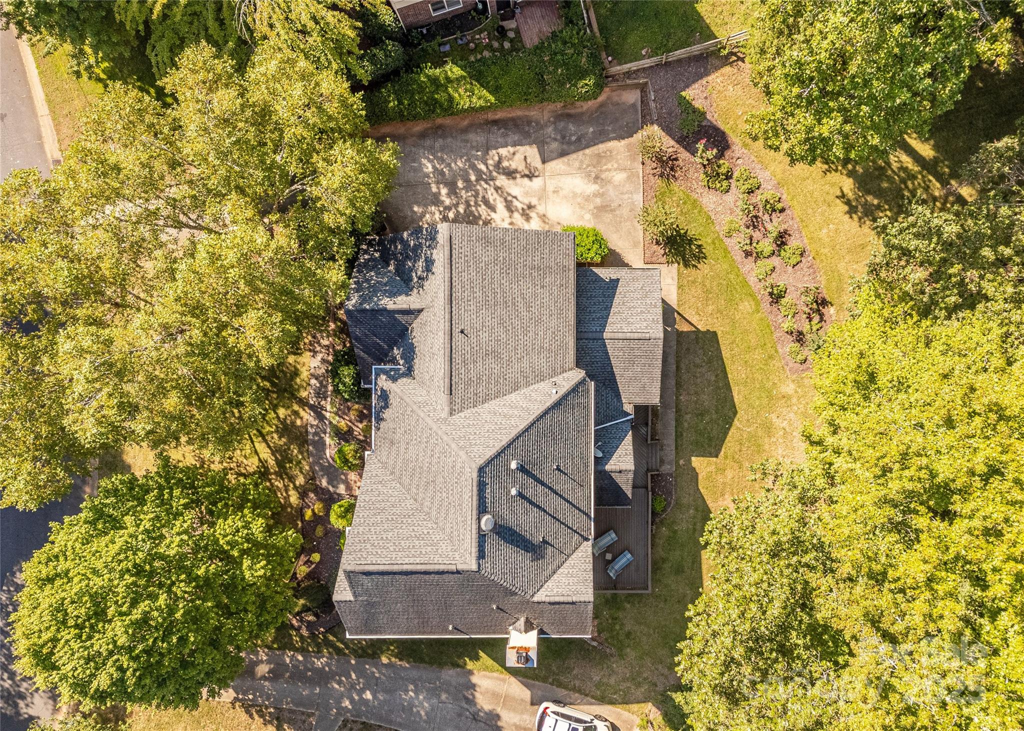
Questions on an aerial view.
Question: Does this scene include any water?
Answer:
No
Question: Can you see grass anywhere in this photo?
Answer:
Yes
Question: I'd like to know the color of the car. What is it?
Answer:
white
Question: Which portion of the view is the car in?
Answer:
bottom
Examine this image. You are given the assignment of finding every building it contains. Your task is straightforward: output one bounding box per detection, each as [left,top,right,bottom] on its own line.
[394,0,475,31]
[333,223,666,668]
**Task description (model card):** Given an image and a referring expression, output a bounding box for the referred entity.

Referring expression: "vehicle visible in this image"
[540,698,611,731]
